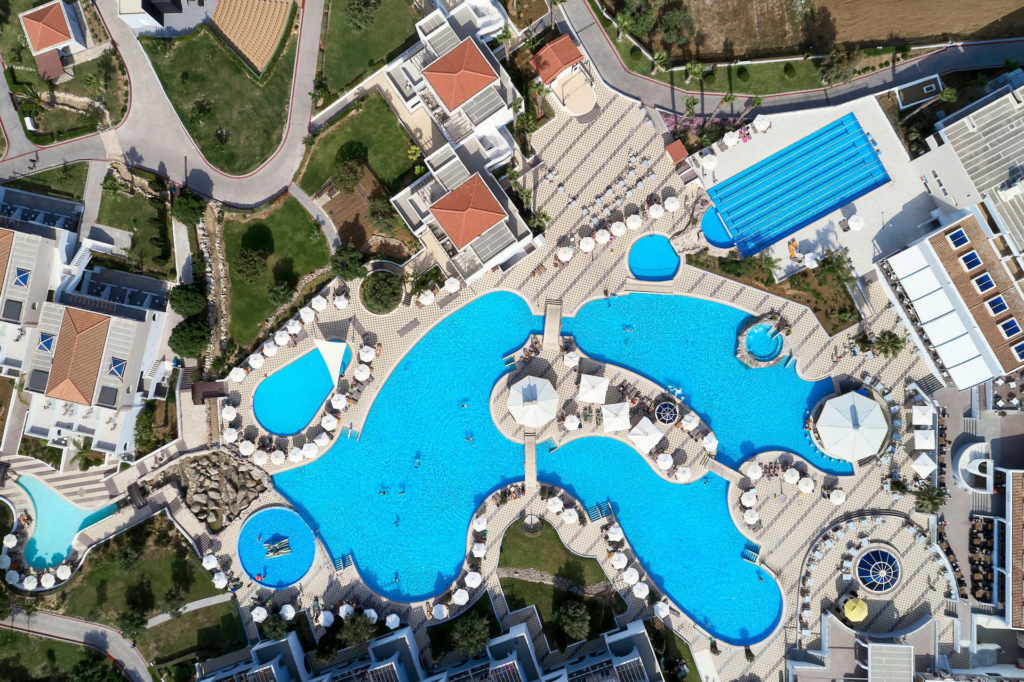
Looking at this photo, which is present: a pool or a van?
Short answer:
pool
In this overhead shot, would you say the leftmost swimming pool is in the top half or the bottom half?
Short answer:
bottom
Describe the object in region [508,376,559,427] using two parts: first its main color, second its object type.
white tent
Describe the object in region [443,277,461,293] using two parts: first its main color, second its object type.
white umbrella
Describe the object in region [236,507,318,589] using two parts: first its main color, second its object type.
blue swimming pool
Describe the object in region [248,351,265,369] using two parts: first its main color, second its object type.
white umbrella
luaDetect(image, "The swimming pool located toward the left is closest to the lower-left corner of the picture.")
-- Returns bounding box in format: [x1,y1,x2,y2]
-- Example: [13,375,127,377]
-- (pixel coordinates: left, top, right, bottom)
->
[12,472,123,572]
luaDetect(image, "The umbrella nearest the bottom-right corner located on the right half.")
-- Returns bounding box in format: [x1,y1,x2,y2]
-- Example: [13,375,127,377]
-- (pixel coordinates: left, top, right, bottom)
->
[844,598,868,622]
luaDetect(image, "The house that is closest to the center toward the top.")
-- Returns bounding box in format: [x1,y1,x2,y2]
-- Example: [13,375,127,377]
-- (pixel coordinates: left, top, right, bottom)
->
[392,144,533,284]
